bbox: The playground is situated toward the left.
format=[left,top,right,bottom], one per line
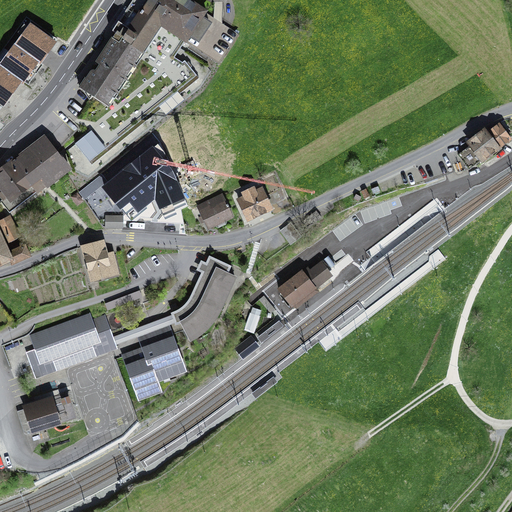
[68,352,134,434]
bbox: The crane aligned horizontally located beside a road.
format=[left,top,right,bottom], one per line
[150,156,313,192]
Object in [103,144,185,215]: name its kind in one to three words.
building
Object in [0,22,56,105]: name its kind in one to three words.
house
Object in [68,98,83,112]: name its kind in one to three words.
vehicle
